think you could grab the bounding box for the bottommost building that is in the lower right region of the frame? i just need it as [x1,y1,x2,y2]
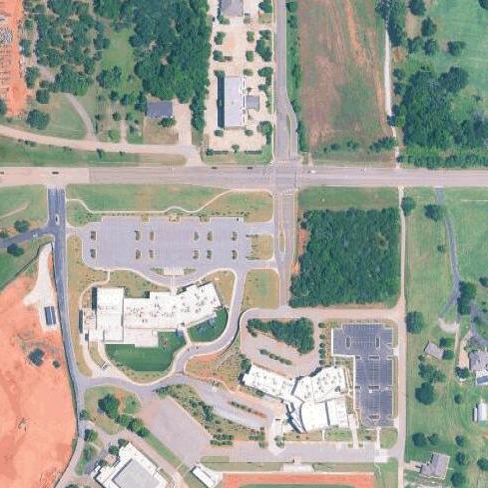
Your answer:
[421,454,450,479]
